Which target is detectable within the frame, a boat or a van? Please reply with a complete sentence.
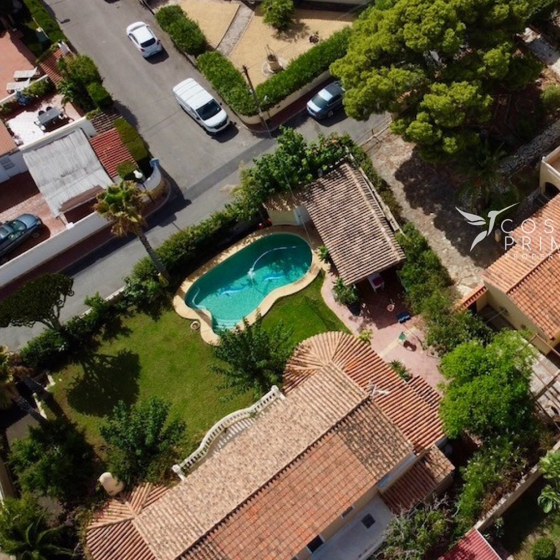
It is a van that can be seen here.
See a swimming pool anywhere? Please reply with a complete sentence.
Yes, the frame does contain a swimming pool.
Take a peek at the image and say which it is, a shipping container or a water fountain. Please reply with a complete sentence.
Looking from above, you can make out a water fountain.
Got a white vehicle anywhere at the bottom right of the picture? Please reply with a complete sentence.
No, I can find no white vehicle at the bottom right of the picture.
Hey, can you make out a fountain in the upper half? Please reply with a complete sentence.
Yes, the scene does show a fountain in the upper half.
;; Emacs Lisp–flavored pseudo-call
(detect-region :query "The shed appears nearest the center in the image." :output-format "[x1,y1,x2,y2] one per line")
[260,162,408,302]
